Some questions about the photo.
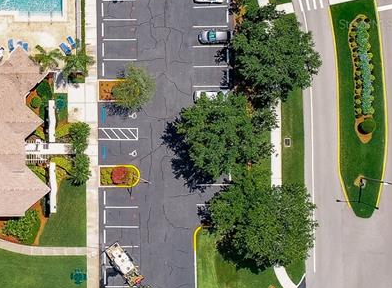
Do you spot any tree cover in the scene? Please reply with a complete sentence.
Yes, there's tree cover in this view.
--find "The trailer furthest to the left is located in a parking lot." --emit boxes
[107,243,145,288]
